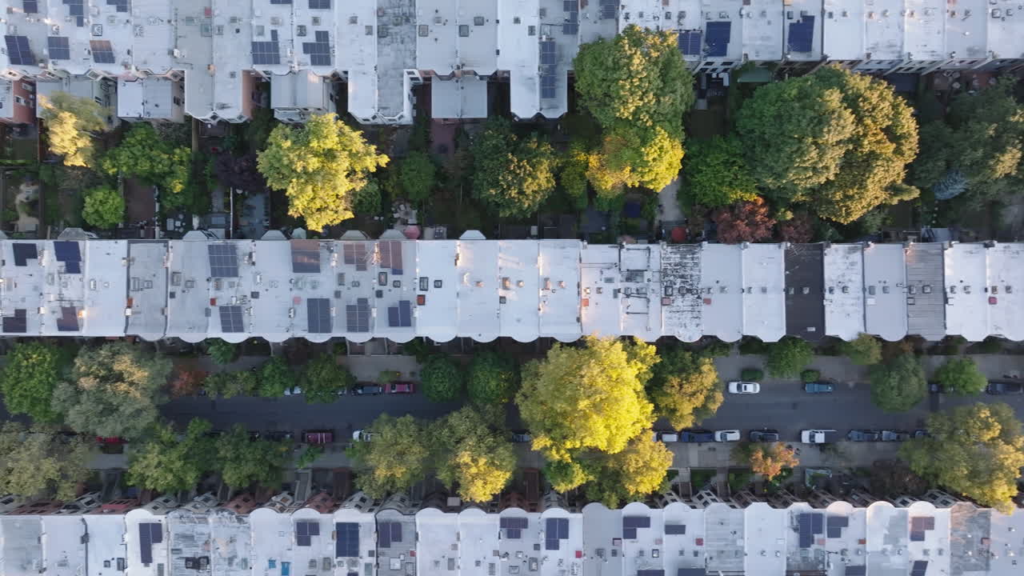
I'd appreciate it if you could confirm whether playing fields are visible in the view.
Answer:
No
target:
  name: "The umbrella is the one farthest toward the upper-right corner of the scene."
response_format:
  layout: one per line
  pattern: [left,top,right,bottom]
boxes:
[671,225,686,240]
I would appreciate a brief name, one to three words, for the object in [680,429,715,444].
vehicle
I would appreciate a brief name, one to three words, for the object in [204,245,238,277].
solar array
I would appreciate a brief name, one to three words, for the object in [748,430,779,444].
car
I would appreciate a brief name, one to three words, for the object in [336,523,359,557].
solar array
